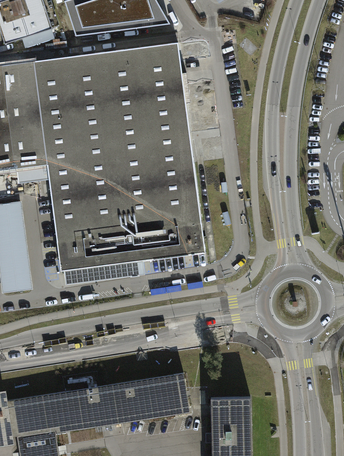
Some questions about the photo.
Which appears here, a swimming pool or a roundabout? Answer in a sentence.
There is a roundabout in the scene.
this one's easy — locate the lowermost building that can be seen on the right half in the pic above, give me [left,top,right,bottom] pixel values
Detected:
[211,395,252,456]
